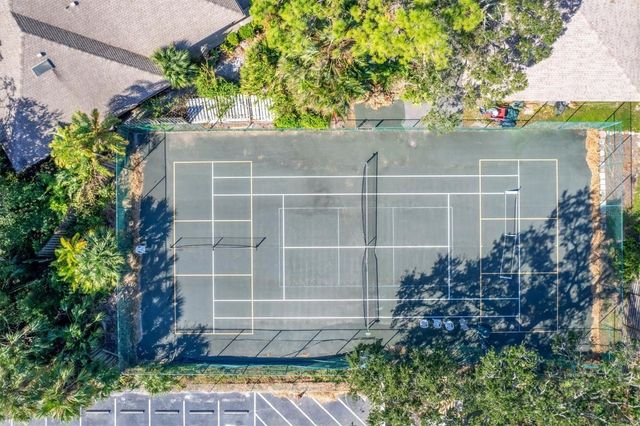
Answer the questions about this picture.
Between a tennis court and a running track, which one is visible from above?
tennis court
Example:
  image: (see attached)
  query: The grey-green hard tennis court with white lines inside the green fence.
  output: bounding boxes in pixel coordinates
[132,130,600,363]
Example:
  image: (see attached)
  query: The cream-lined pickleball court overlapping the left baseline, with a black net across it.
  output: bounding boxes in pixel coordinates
[174,161,254,335]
